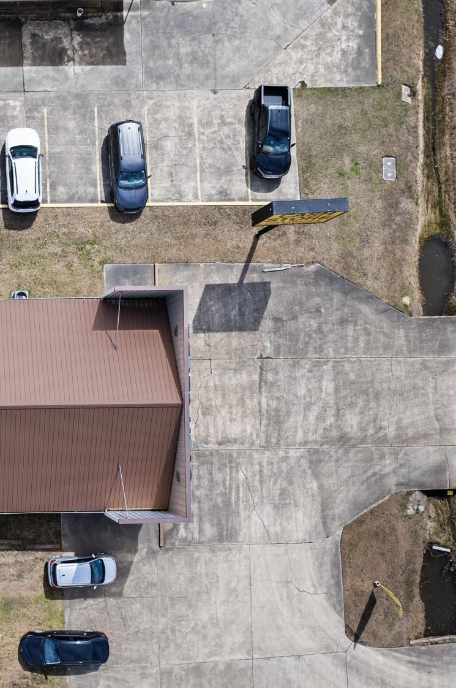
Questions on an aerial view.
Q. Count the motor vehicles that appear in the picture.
five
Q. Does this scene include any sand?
No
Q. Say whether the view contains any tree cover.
No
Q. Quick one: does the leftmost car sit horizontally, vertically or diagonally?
vertically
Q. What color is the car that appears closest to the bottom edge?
black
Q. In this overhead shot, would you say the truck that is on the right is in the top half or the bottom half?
top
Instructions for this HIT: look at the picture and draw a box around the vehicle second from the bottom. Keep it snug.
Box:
[46,552,117,593]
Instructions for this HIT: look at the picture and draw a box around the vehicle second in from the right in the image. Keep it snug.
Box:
[107,120,153,214]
